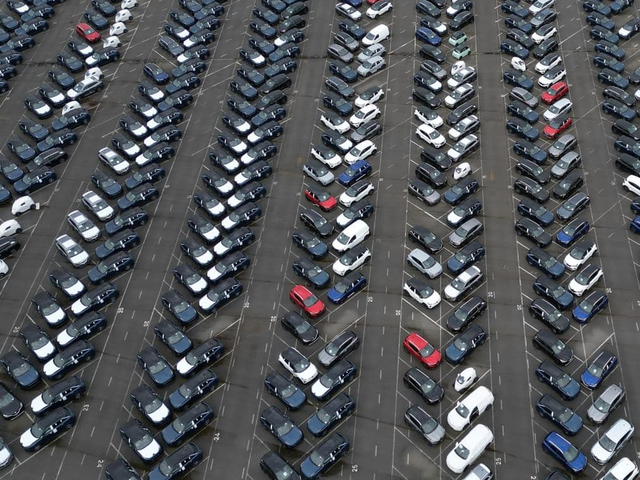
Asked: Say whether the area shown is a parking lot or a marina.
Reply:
parking lot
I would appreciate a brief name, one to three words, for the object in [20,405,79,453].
car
